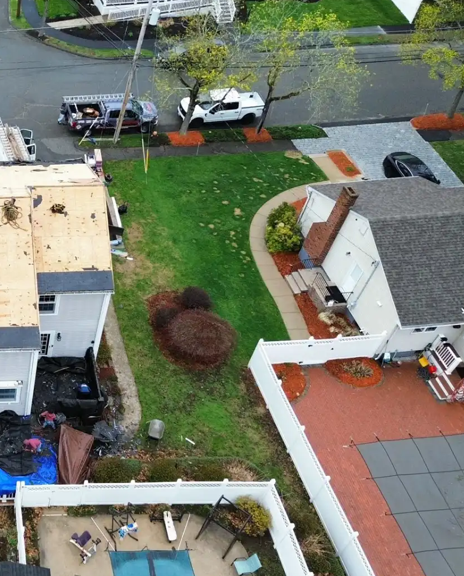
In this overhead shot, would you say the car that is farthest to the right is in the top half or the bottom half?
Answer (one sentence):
You can find the car that is farthest to the right in the top half.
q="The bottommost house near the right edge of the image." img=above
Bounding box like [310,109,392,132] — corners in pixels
[284,174,464,369]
